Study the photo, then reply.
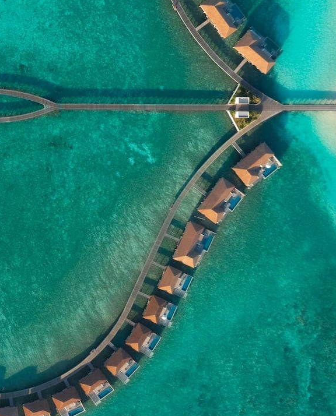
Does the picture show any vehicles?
No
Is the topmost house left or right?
right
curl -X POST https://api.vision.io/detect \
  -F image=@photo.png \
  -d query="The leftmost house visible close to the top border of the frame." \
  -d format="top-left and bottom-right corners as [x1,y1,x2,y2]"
[198,0,249,39]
